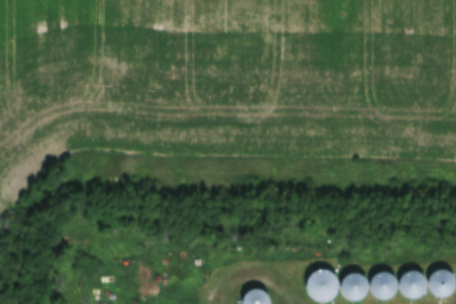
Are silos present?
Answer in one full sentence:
Yes, a silo appears in the view.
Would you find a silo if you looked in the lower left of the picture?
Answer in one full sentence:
No, no silo can be made out in the lower left of the picture.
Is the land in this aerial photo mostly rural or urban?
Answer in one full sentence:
The land in this view is best described as rural.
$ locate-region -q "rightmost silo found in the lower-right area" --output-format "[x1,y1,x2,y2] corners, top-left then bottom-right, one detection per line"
[428,268,456,300]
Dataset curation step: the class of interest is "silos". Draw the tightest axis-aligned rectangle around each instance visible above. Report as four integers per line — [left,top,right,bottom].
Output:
[369,271,398,303]
[306,268,340,302]
[398,270,428,302]
[428,268,456,300]
[240,288,272,304]
[340,272,369,303]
